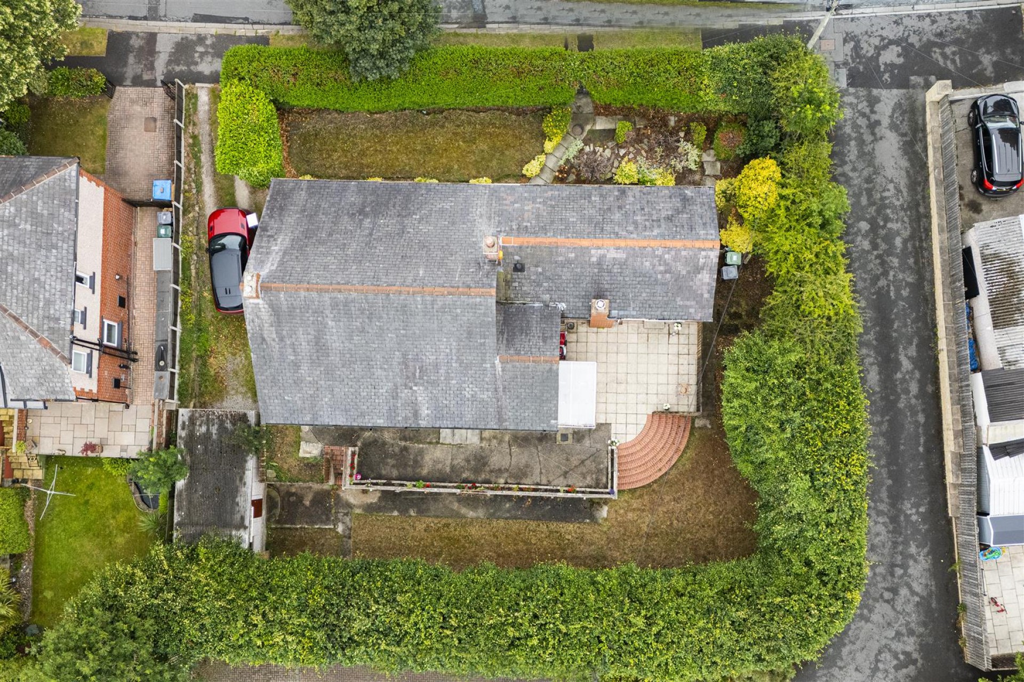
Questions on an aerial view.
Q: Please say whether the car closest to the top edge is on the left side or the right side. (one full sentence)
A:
The car closest to the top edge sits on the right side.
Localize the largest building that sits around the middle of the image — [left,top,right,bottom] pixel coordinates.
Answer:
[240,178,720,433]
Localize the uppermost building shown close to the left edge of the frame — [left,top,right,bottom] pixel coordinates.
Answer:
[0,155,136,408]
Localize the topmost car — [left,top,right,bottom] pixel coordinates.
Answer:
[967,95,1024,199]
